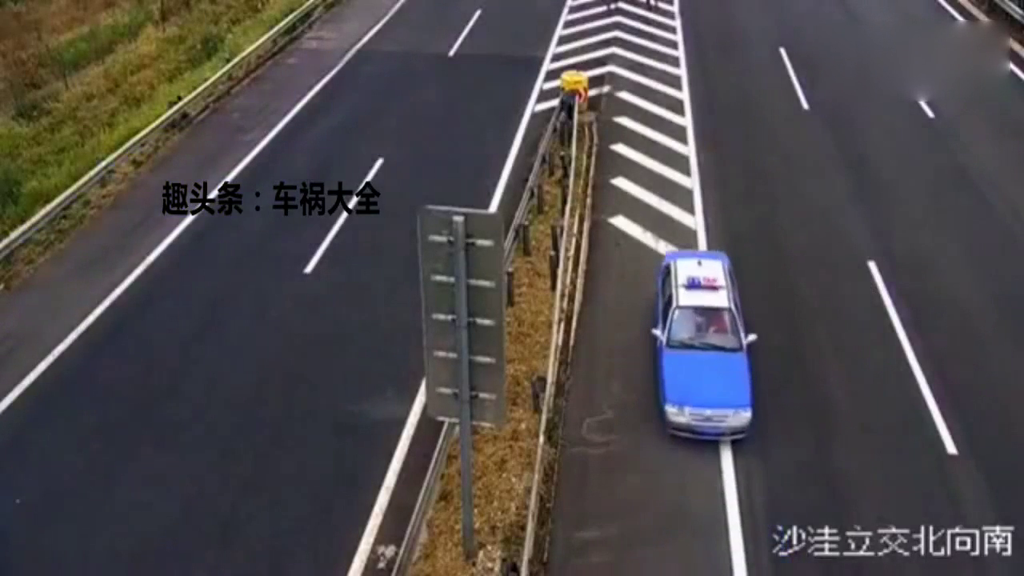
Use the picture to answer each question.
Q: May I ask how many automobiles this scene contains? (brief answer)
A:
1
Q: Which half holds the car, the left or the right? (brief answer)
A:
right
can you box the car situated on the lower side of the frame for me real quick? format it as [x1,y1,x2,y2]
[651,250,760,442]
